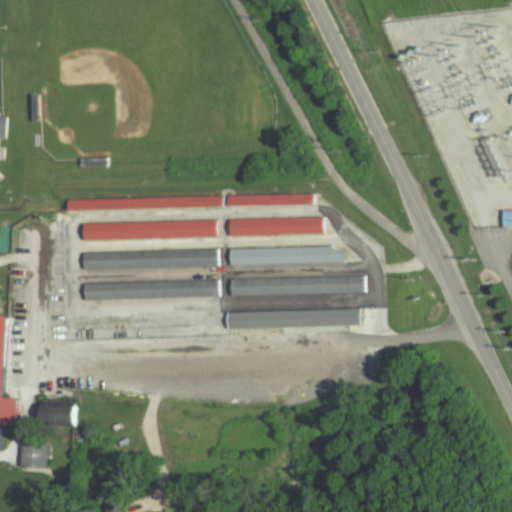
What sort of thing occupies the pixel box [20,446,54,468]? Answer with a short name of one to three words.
building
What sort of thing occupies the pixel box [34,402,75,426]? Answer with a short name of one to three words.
barn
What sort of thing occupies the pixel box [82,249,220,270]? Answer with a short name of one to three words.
building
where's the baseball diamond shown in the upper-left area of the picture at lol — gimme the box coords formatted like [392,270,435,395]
[43,48,152,158]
